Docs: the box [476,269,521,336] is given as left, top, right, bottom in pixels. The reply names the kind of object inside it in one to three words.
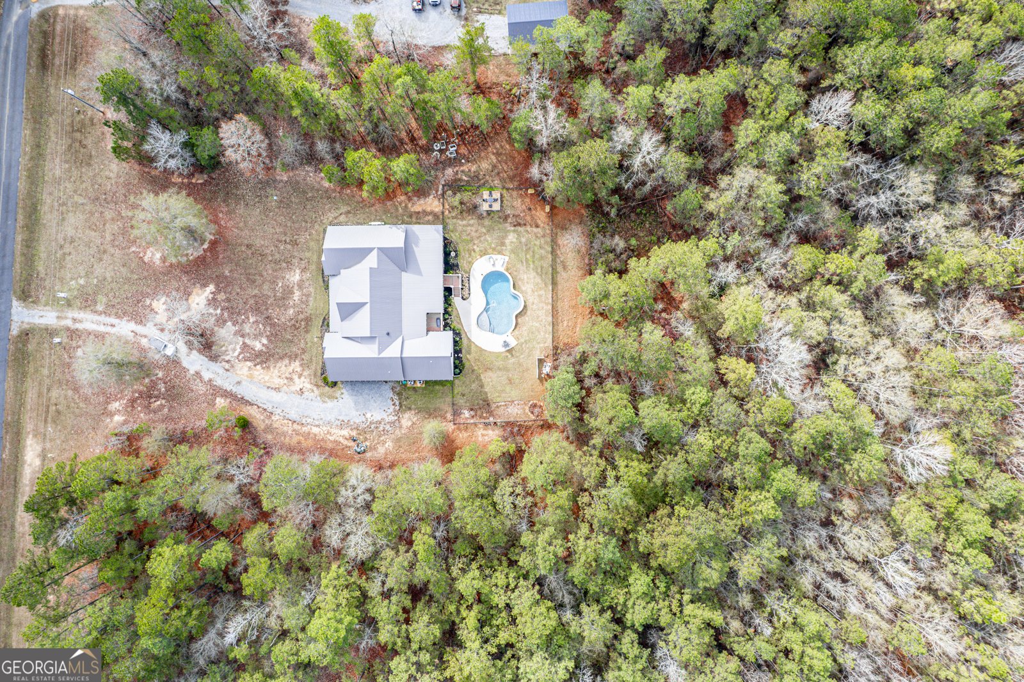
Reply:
swimming pool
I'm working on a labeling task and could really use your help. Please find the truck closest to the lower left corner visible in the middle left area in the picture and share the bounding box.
[147,335,180,359]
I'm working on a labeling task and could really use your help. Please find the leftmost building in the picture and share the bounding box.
[324,225,454,382]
